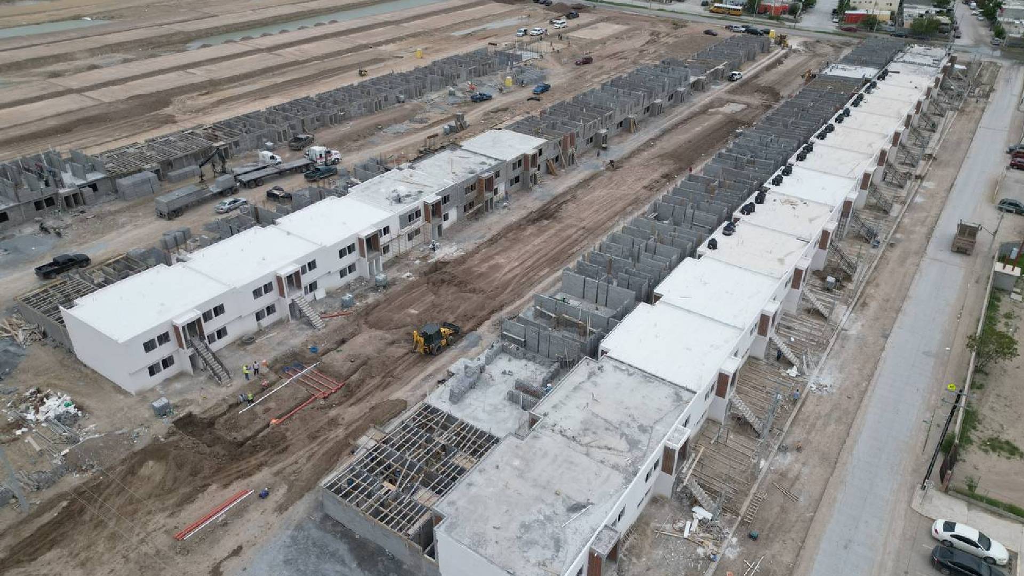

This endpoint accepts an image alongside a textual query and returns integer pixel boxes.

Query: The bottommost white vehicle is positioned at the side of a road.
[935,517,1015,567]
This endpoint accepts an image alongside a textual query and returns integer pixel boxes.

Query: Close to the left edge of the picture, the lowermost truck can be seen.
[32,254,89,278]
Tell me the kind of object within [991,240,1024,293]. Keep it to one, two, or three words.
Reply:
shed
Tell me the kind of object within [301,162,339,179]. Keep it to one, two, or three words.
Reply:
vehicle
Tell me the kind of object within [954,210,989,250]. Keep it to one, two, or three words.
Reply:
truck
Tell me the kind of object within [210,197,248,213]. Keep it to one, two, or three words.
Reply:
car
